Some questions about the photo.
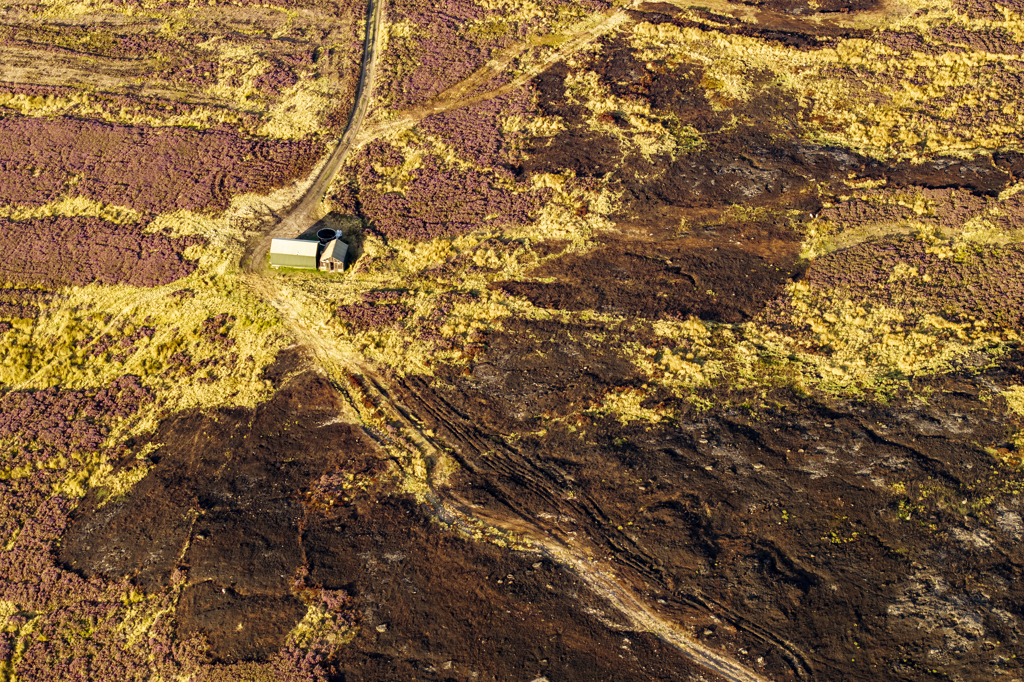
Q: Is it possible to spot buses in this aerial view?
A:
No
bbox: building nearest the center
[319,238,349,272]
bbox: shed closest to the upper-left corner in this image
[270,236,321,269]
